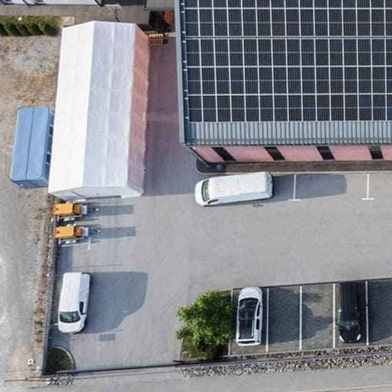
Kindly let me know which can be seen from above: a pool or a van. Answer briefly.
van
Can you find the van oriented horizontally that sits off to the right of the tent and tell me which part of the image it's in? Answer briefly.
center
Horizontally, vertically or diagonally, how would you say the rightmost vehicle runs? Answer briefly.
vertically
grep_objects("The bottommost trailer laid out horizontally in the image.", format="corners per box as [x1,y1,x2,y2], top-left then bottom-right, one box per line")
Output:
[49,226,97,248]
